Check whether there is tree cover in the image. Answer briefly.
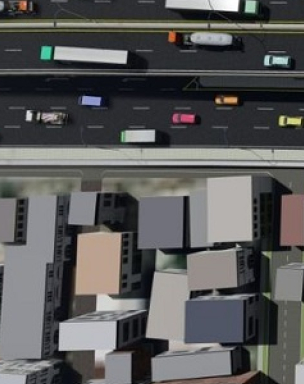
No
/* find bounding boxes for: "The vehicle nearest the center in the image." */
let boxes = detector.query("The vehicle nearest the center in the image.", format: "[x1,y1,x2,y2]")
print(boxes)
[121,129,162,144]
